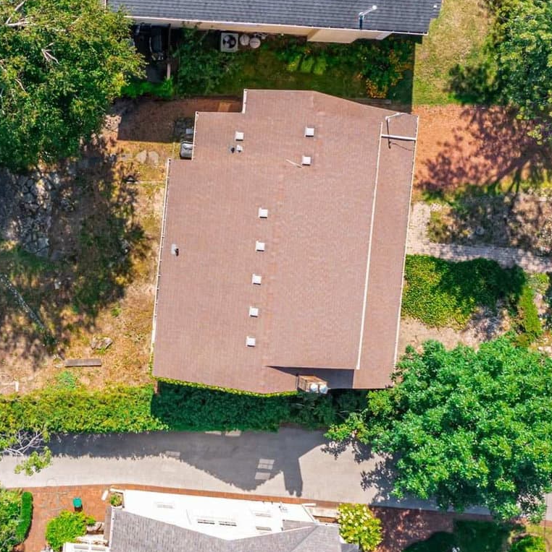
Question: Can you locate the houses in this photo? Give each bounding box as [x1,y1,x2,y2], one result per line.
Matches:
[103,0,442,52]
[60,495,359,552]
[150,90,421,394]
